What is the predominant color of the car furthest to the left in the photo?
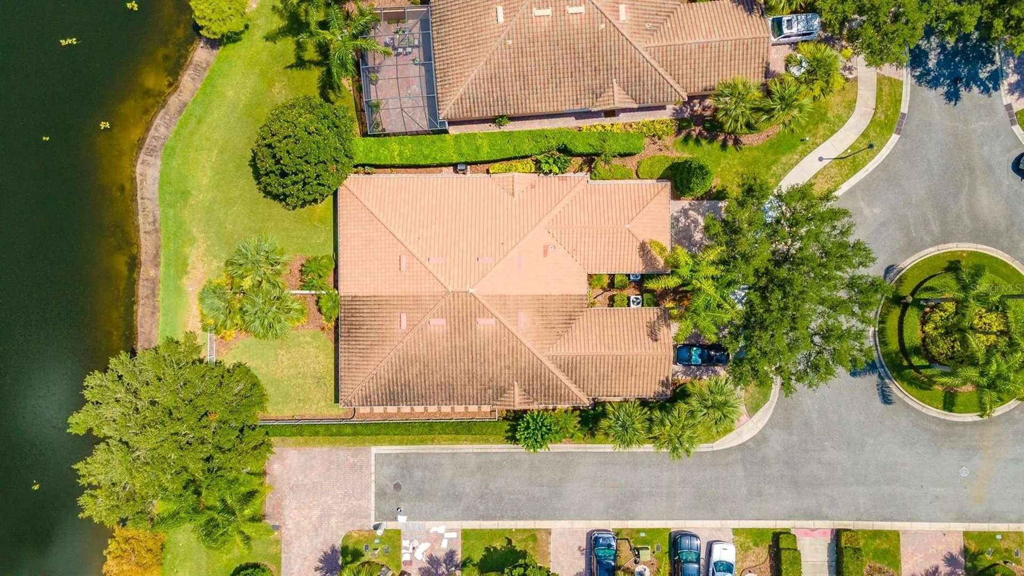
blue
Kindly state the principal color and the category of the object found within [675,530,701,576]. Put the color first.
blue car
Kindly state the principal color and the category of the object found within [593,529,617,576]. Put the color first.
blue car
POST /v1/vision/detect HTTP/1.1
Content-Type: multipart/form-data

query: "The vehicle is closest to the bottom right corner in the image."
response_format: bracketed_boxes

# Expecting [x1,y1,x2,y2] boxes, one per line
[711,541,736,576]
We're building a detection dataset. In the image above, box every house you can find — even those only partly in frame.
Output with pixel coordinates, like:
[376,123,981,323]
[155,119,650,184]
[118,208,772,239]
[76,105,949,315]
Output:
[429,0,769,122]
[338,172,677,412]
